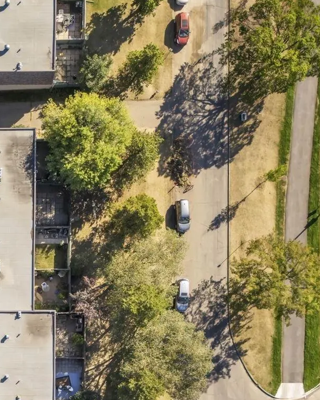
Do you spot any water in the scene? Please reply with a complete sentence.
No, there's no water in this view.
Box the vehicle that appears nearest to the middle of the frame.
[174,199,193,235]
